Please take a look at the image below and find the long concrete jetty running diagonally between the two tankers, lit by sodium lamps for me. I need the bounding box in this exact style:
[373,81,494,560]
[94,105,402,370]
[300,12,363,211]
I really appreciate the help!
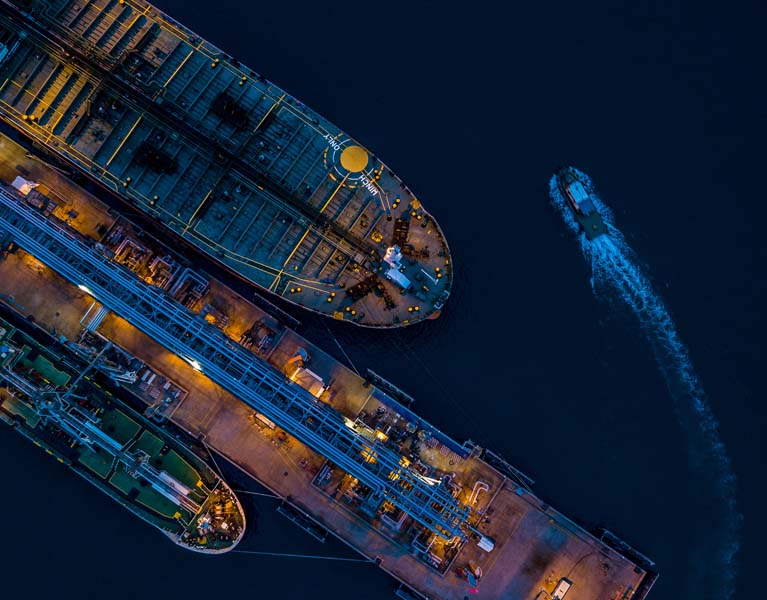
[0,130,657,600]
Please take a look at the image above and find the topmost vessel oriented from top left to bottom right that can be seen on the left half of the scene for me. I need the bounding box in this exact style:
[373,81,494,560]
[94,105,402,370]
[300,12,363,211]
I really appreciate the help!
[0,0,451,333]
